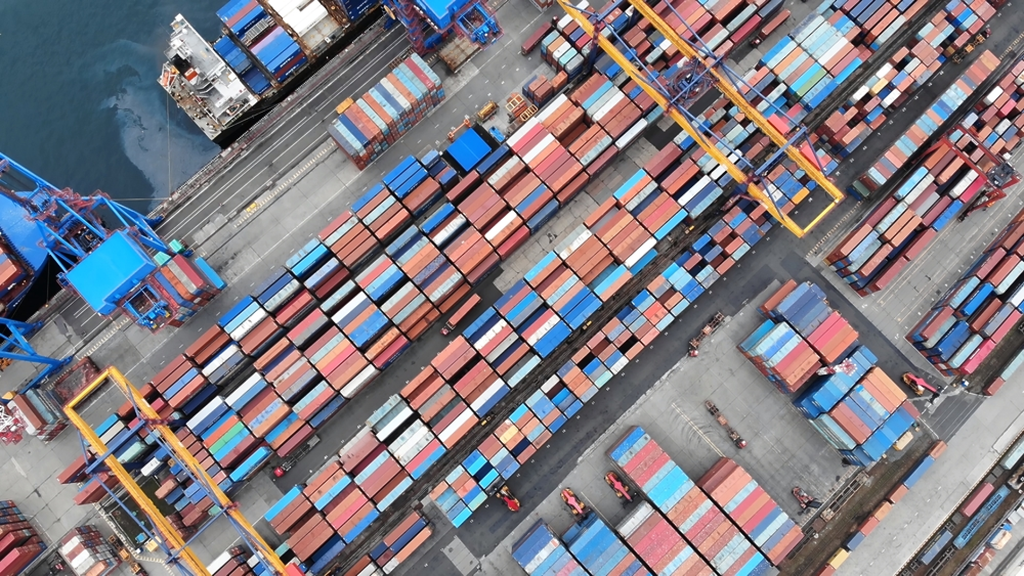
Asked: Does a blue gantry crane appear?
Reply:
Yes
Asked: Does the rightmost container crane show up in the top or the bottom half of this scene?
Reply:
top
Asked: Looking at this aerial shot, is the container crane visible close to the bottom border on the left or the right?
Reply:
left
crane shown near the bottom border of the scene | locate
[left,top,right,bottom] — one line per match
[61,357,330,576]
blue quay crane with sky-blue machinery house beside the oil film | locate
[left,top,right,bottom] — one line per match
[0,148,206,354]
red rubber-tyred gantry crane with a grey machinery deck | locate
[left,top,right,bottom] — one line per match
[906,122,1024,221]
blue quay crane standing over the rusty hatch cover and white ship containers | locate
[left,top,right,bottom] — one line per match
[382,0,521,68]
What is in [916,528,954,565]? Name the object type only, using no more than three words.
shipping container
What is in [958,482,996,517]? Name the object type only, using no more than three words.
shipping container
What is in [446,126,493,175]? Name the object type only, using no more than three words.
shed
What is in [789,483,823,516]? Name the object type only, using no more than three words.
work vehicle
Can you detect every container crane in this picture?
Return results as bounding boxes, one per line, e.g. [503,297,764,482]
[548,0,849,245]
[382,0,521,68]
[0,312,81,417]
[906,122,1024,221]
[0,148,206,354]
[61,357,330,576]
